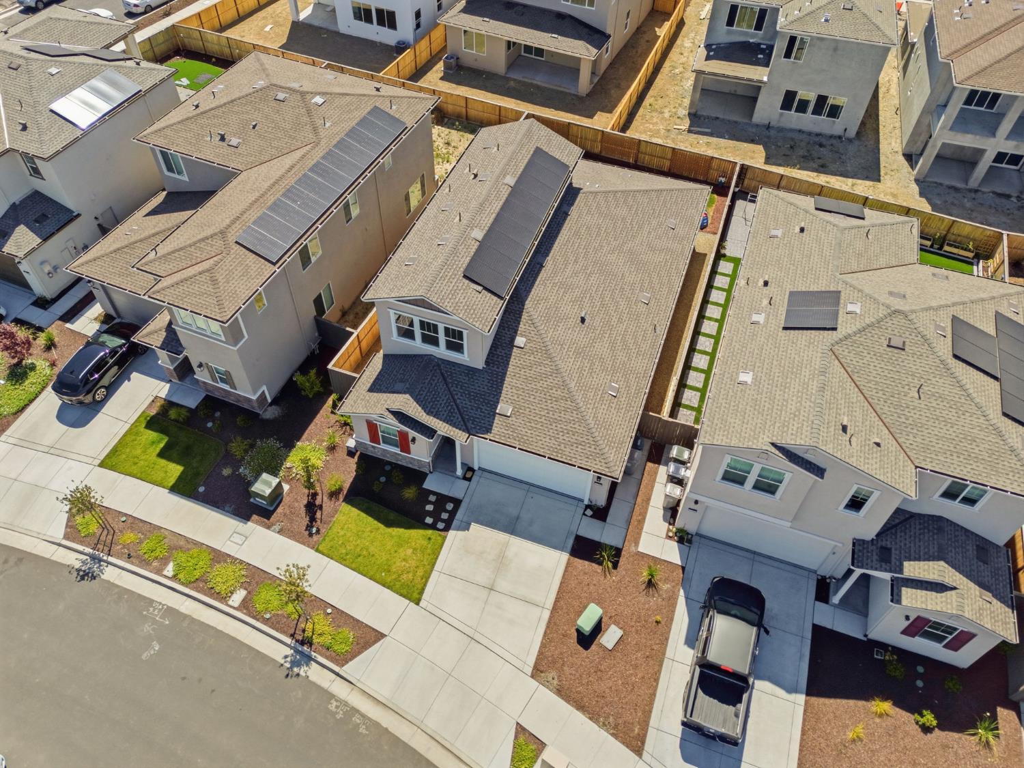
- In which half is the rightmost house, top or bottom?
top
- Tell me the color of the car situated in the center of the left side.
black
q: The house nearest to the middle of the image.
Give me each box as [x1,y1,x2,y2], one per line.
[336,120,712,507]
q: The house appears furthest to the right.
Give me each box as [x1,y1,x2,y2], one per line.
[894,0,1024,193]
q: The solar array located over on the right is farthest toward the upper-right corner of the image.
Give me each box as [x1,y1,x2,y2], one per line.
[815,196,866,218]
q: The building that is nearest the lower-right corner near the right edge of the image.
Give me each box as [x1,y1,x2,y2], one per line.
[675,186,1024,669]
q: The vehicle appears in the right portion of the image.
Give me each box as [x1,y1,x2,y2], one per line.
[682,576,767,748]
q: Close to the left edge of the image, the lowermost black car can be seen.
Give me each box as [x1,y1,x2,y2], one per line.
[51,322,147,405]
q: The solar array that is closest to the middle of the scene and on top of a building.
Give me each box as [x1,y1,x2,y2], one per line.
[460,146,571,296]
